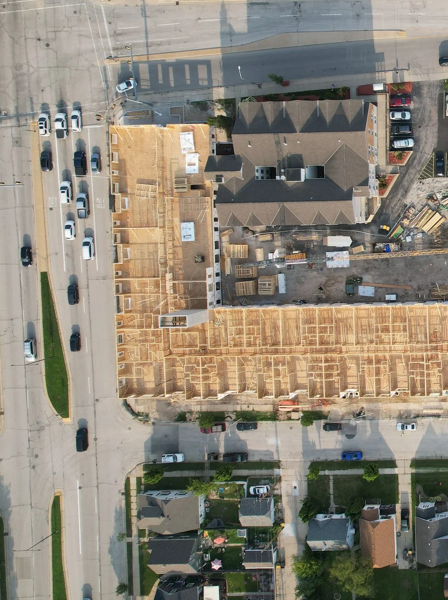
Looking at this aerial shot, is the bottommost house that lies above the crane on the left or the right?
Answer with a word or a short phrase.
right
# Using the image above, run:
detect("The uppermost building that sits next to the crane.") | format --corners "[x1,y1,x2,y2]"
[205,101,382,226]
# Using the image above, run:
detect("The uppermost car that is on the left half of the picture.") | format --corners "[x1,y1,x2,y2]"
[116,78,139,94]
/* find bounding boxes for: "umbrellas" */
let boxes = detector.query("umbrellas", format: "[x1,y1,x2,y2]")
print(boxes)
[211,558,223,570]
[214,535,225,547]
